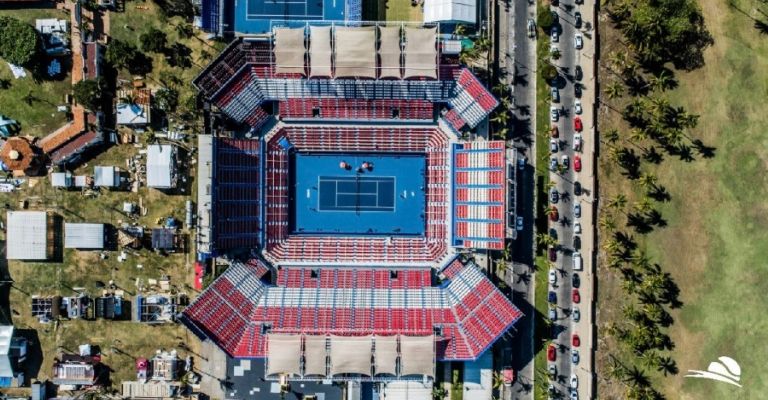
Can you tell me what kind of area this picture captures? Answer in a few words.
sports ground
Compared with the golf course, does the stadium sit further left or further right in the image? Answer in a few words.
on its left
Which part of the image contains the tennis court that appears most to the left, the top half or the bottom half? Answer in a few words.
top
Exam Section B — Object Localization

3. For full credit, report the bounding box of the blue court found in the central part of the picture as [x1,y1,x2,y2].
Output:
[290,152,426,236]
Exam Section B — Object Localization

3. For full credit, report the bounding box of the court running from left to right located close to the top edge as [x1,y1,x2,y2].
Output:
[233,0,334,33]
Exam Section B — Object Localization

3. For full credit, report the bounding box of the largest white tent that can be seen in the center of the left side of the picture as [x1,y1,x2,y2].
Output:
[147,145,176,188]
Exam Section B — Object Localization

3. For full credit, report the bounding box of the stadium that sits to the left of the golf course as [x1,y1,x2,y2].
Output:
[182,20,522,382]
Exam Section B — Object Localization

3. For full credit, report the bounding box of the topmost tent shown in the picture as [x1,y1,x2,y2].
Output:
[424,0,478,24]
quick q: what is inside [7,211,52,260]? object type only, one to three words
building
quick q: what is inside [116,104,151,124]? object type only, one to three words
house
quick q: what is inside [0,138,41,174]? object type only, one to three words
building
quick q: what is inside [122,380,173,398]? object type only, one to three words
shed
